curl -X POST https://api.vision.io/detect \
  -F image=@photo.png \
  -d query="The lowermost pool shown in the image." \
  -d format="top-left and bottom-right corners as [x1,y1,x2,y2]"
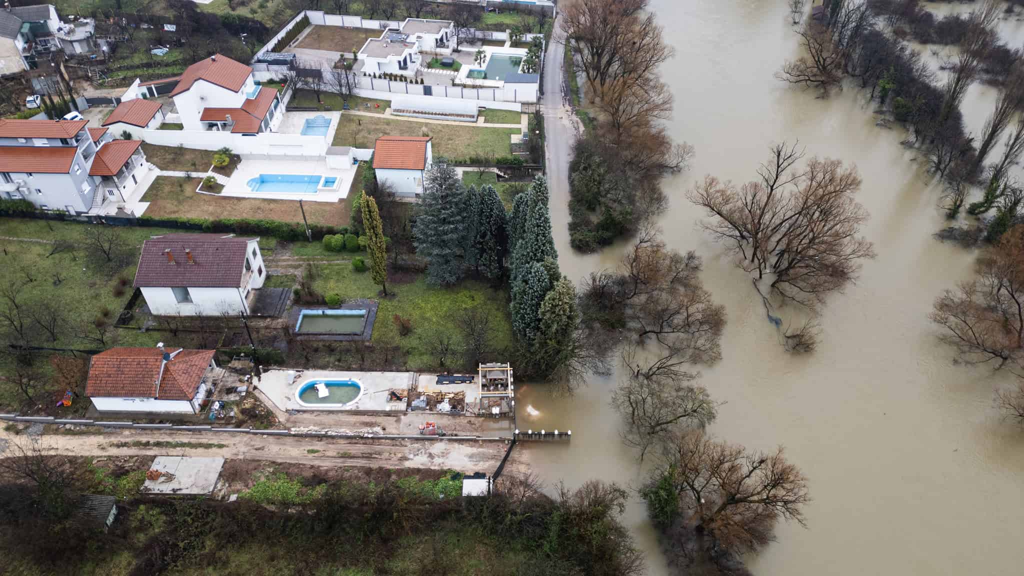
[293,376,371,409]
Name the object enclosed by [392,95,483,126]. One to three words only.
greenhouse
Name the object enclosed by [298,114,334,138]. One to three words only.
swimming pool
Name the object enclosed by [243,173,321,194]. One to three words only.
swimming pool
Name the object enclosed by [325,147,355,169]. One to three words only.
shed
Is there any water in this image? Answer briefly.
Yes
